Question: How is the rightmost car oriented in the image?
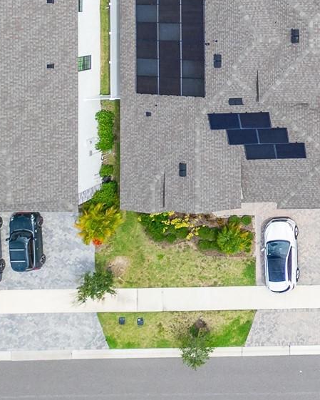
from top to bottom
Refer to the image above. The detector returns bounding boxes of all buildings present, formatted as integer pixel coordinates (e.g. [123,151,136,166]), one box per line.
[120,0,320,213]
[0,0,101,212]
